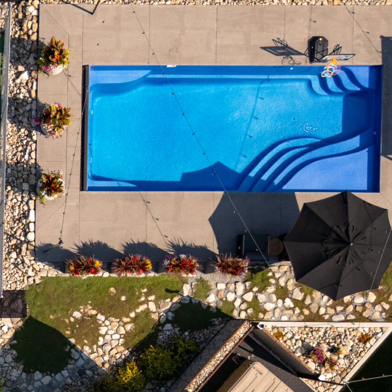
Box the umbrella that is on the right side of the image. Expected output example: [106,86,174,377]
[284,191,392,301]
